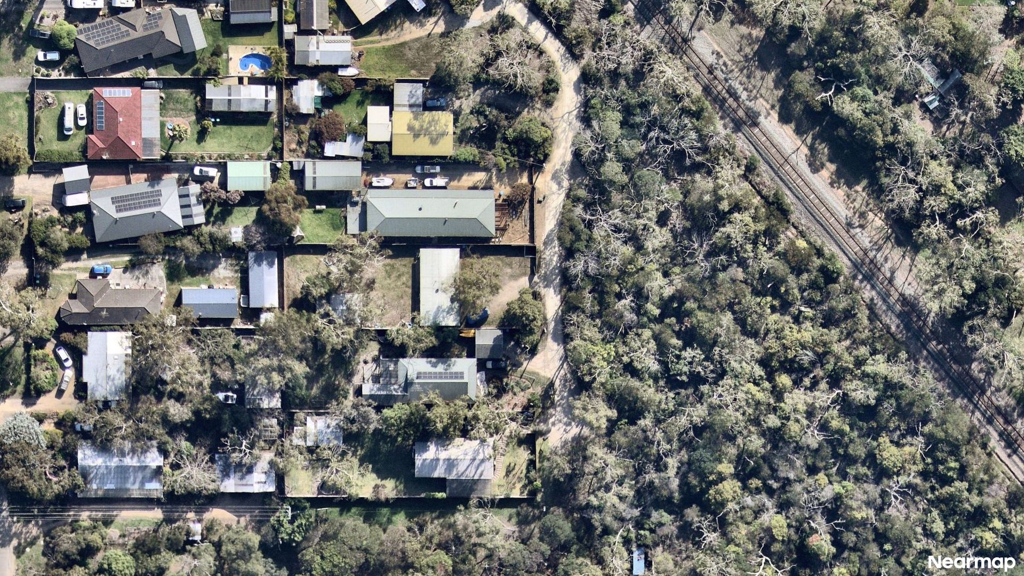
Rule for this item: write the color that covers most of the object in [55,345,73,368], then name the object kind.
white car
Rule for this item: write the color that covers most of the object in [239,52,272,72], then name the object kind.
blue swimming pool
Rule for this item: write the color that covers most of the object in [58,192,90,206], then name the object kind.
white camper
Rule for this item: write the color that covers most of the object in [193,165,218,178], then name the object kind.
white vehicle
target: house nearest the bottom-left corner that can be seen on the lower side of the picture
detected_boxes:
[78,440,164,498]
